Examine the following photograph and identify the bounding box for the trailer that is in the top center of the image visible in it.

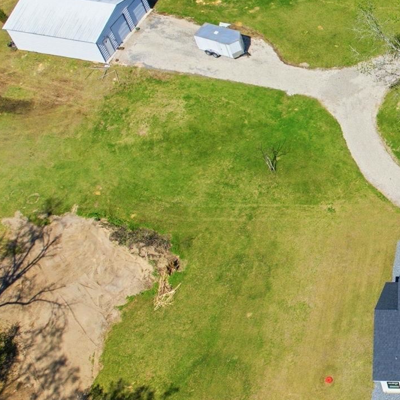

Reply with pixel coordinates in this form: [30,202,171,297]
[195,26,255,59]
